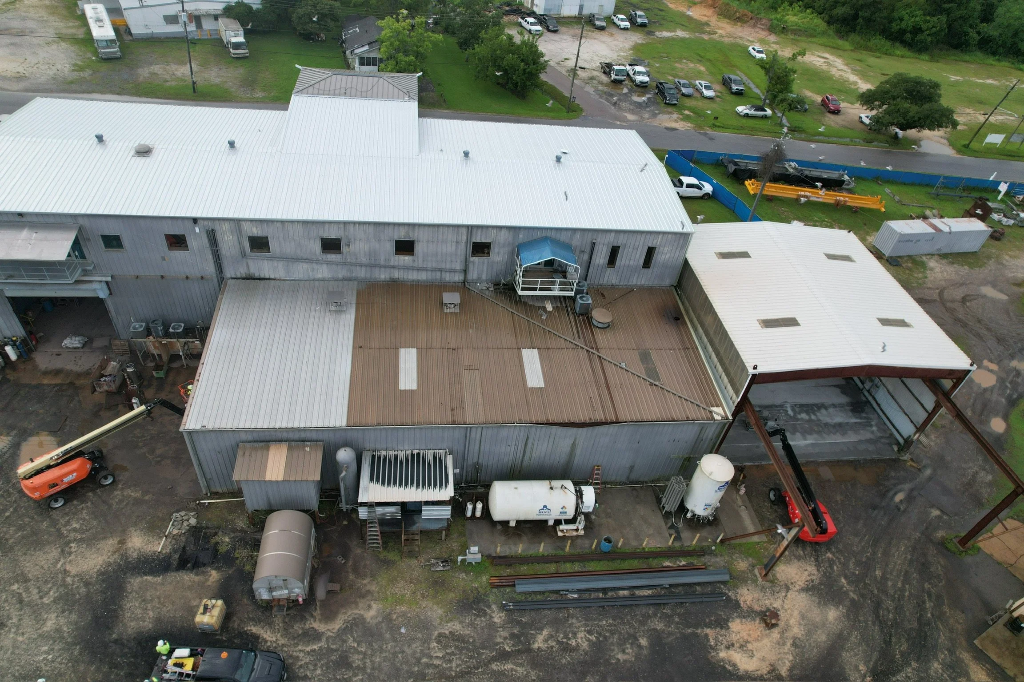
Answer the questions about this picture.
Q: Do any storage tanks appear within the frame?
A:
Yes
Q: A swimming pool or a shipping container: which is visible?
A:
shipping container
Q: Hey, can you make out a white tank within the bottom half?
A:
Yes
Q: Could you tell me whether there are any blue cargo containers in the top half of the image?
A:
No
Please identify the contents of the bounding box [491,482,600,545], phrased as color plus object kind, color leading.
white storage tank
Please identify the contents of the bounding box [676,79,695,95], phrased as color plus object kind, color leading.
gray car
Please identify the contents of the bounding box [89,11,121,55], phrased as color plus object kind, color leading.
white camper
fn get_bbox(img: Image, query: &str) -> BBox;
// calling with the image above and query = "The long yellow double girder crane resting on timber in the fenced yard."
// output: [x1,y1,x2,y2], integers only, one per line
[748,176,891,221]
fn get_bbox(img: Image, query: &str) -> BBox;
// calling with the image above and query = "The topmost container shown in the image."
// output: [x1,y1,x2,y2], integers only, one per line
[871,219,988,258]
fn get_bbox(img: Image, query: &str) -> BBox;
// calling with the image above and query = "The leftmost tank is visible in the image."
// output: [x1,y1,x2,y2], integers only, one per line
[252,509,319,623]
